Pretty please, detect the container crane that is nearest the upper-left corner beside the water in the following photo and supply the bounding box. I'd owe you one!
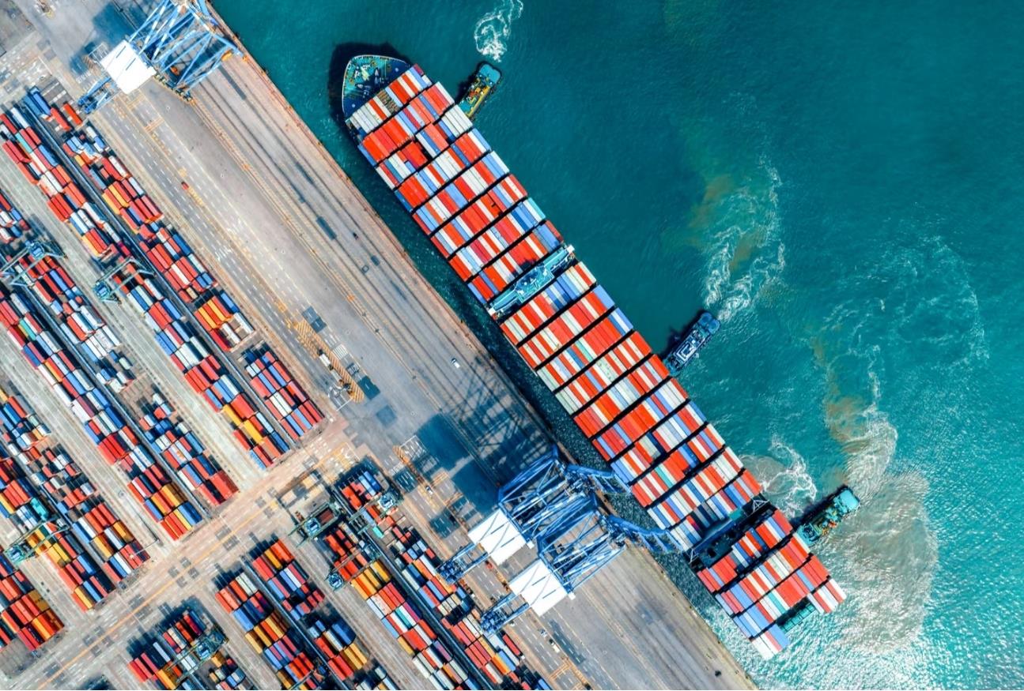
[70,0,251,126]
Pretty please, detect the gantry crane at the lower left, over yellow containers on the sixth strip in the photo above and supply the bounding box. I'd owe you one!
[2,509,84,570]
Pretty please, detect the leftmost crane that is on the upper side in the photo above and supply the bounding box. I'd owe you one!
[0,242,74,298]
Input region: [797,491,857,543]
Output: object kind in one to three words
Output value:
boat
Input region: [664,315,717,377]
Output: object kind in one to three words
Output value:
boat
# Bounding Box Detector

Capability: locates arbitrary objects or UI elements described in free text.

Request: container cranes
[158,620,234,691]
[84,256,162,312]
[321,531,387,596]
[284,489,353,552]
[0,242,74,298]
[439,440,633,584]
[2,509,84,570]
[70,0,251,126]
[347,475,410,537]
[479,488,683,634]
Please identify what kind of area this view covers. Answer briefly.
port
